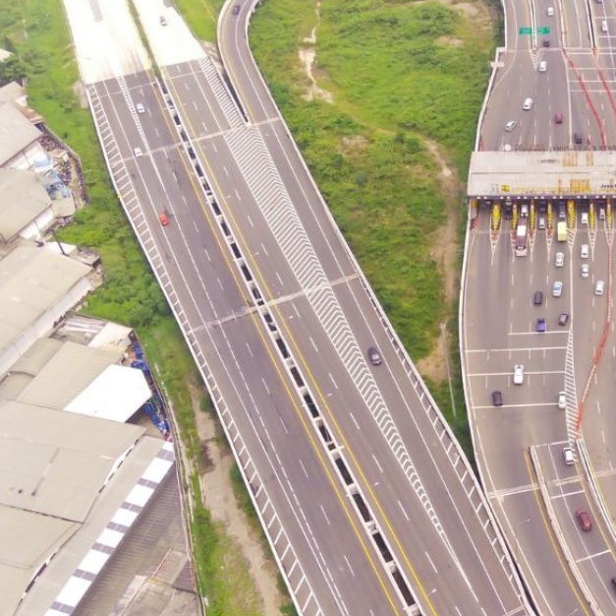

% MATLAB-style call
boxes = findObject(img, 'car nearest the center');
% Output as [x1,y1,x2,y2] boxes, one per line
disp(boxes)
[367,347,380,362]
